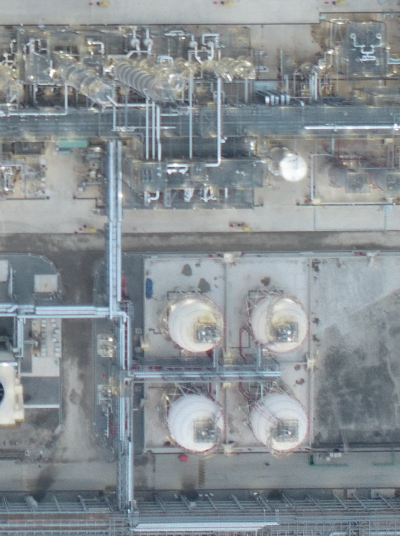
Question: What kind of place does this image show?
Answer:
industrial area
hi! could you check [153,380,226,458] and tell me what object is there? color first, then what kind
white storage tank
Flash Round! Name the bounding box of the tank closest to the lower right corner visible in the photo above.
[239,380,313,454]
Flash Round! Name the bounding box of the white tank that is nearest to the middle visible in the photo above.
[156,283,225,355]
